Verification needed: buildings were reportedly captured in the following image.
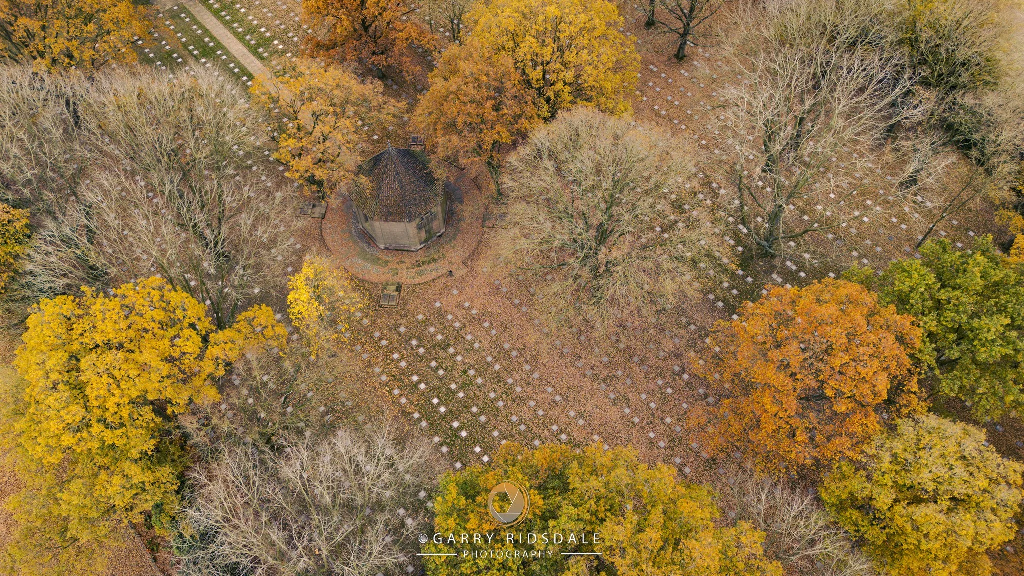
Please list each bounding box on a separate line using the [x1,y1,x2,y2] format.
[347,139,451,252]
